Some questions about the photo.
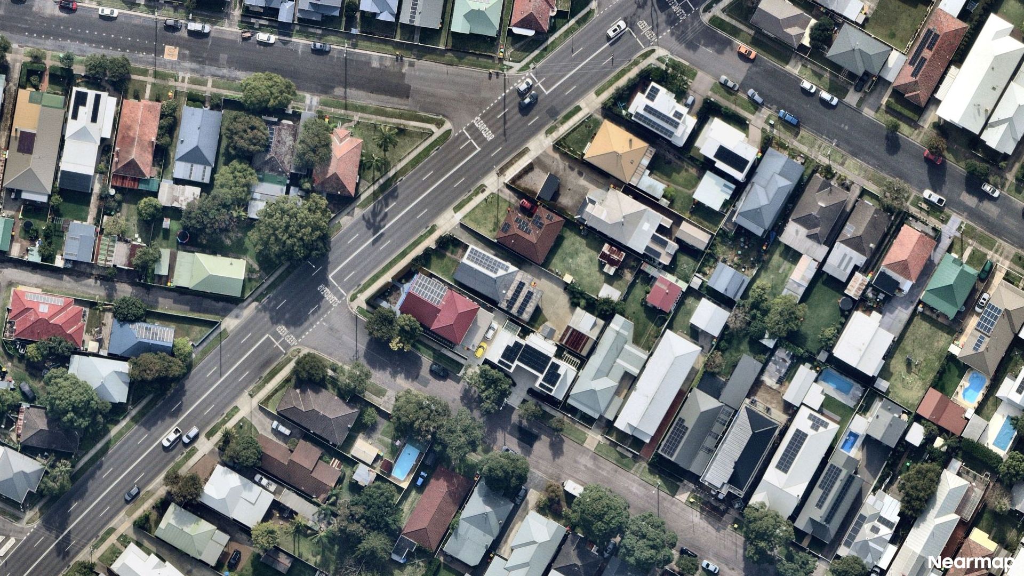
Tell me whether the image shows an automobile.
Yes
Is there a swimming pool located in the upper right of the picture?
No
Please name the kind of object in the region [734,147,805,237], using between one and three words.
house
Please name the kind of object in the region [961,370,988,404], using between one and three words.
swimming pool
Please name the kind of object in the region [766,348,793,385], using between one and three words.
shed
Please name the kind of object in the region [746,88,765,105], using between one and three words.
car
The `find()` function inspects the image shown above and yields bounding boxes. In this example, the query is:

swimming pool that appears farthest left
[390,442,421,481]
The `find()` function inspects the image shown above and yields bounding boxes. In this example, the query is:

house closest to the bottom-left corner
[0,446,45,503]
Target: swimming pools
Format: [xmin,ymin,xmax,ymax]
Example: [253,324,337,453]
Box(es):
[390,442,421,481]
[840,431,862,454]
[991,413,1019,452]
[961,370,988,404]
[819,366,856,397]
